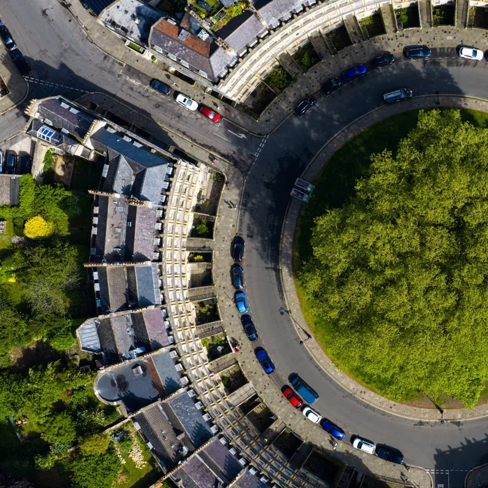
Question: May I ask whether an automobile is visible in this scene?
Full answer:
Yes, there's an automobile here.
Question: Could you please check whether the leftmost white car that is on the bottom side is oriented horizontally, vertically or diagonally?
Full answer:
From this overhead view, the leftmost white car that is on the bottom side appears to run diagonally.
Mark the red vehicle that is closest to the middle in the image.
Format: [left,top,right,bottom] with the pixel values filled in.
[197,104,223,124]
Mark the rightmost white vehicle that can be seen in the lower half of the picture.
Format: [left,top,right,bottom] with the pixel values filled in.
[351,437,376,454]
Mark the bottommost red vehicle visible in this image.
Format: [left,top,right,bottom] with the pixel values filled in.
[282,387,302,408]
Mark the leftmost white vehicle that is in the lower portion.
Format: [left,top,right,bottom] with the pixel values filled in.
[300,405,322,425]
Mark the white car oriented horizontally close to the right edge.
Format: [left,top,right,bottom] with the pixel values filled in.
[458,48,484,61]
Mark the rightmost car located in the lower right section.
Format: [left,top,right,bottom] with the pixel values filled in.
[376,446,403,461]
